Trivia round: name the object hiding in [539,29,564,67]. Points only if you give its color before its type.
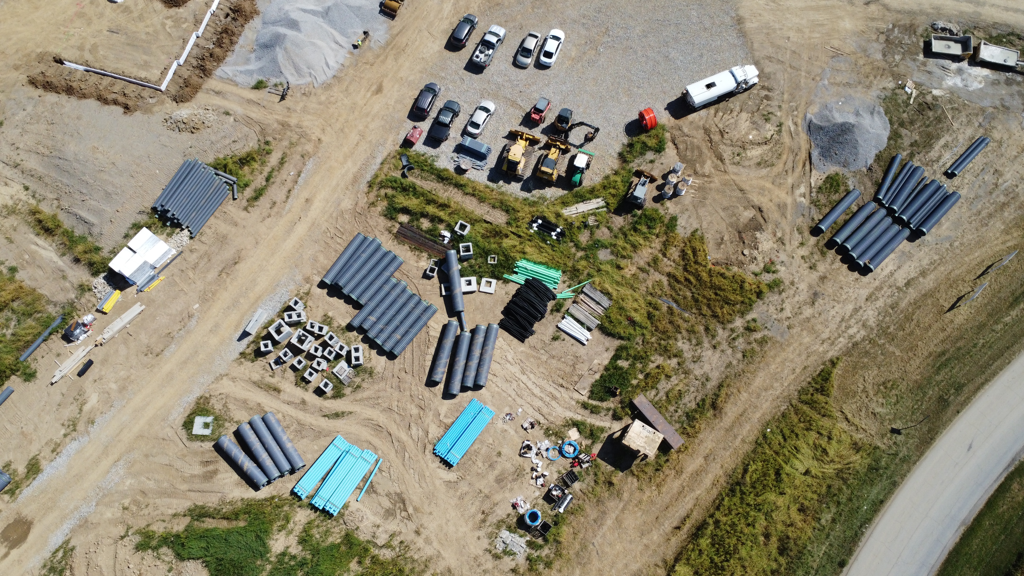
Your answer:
white car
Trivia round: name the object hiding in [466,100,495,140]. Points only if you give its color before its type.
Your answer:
white car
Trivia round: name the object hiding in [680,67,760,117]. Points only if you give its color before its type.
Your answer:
white truck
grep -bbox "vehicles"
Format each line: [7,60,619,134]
[624,169,660,211]
[539,29,564,67]
[680,67,760,117]
[536,138,571,182]
[566,150,592,191]
[500,132,542,180]
[472,24,506,70]
[530,98,553,127]
[452,14,480,50]
[413,82,441,120]
[378,0,406,15]
[429,98,460,144]
[550,109,599,143]
[516,30,542,69]
[466,100,495,140]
